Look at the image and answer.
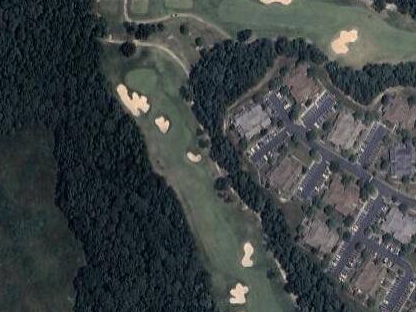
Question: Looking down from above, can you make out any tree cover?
Yes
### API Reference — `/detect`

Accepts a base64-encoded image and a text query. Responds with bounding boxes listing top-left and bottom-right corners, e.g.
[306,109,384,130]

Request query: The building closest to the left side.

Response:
[233,104,271,140]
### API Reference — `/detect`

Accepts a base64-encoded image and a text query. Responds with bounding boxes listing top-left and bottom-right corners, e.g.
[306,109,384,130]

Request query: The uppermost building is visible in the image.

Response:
[278,65,324,106]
